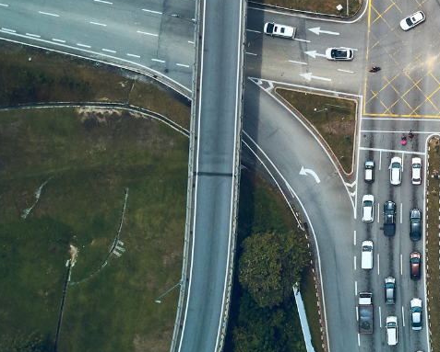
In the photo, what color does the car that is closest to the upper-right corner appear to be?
white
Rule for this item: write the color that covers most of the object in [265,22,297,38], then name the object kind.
white vehicle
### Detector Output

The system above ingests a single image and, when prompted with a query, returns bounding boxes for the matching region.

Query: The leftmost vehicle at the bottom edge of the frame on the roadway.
[356,291,374,336]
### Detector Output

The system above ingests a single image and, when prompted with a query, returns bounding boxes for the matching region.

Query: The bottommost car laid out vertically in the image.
[386,315,399,346]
